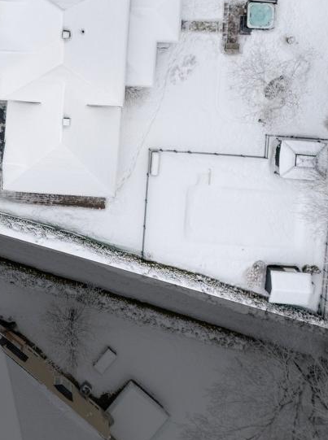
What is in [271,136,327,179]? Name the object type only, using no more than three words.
gazebo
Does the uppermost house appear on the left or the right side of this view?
left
